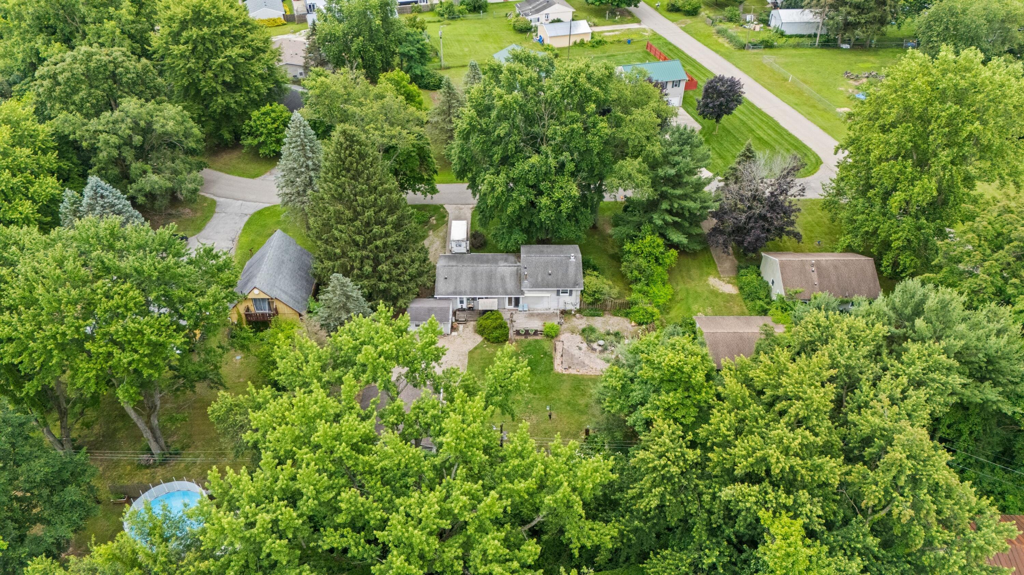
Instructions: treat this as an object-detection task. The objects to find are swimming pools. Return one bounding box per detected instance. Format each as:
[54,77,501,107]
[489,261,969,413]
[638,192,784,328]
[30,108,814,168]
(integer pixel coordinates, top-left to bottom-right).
[120,478,213,563]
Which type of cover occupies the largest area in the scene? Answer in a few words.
trees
